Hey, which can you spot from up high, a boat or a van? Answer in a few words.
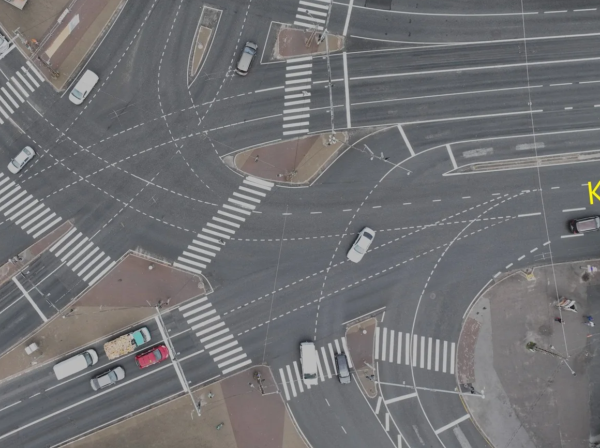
van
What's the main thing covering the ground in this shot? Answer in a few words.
paved ground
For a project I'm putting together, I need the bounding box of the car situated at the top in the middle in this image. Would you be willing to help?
[236,41,258,77]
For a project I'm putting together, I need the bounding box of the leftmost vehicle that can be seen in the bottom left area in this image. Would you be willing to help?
[52,349,98,383]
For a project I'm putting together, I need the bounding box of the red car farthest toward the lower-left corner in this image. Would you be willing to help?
[134,347,170,371]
